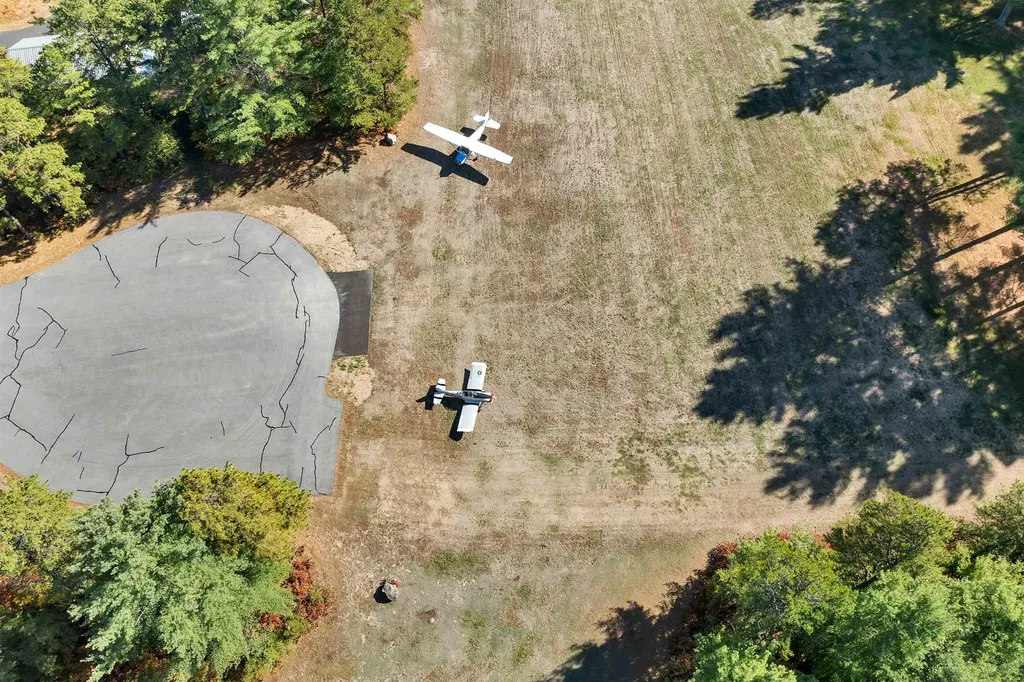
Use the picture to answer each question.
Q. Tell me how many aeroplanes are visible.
2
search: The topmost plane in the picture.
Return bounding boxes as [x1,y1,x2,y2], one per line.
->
[423,109,513,168]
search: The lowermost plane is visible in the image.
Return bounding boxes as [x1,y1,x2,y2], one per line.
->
[432,362,496,433]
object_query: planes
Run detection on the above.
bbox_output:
[432,362,496,433]
[423,109,513,168]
